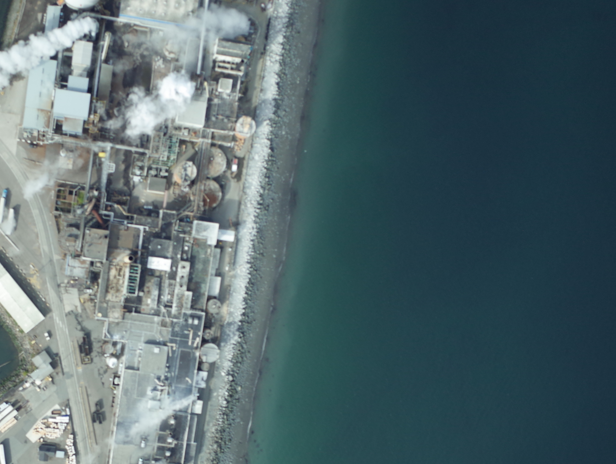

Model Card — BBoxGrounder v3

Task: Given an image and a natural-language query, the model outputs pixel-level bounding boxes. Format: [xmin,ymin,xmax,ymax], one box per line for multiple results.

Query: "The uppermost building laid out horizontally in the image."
[119,0,199,33]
